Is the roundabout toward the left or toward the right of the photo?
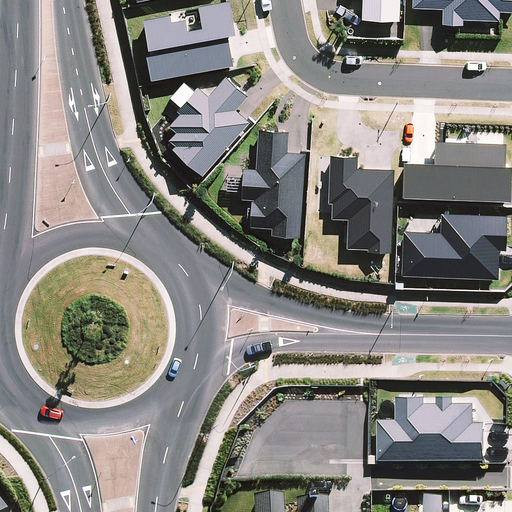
left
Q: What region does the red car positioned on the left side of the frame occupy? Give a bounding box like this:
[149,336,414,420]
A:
[40,407,62,420]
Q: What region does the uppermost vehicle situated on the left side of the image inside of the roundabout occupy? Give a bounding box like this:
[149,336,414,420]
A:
[168,358,180,378]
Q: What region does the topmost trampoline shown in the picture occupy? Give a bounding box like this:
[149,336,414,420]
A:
[379,402,395,418]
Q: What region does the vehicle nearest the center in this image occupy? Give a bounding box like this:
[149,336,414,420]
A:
[246,344,270,356]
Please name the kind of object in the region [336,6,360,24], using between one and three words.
vehicle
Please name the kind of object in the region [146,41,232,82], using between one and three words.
house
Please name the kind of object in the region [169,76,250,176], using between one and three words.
house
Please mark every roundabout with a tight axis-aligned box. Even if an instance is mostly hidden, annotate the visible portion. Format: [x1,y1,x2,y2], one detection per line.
[0,214,210,444]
